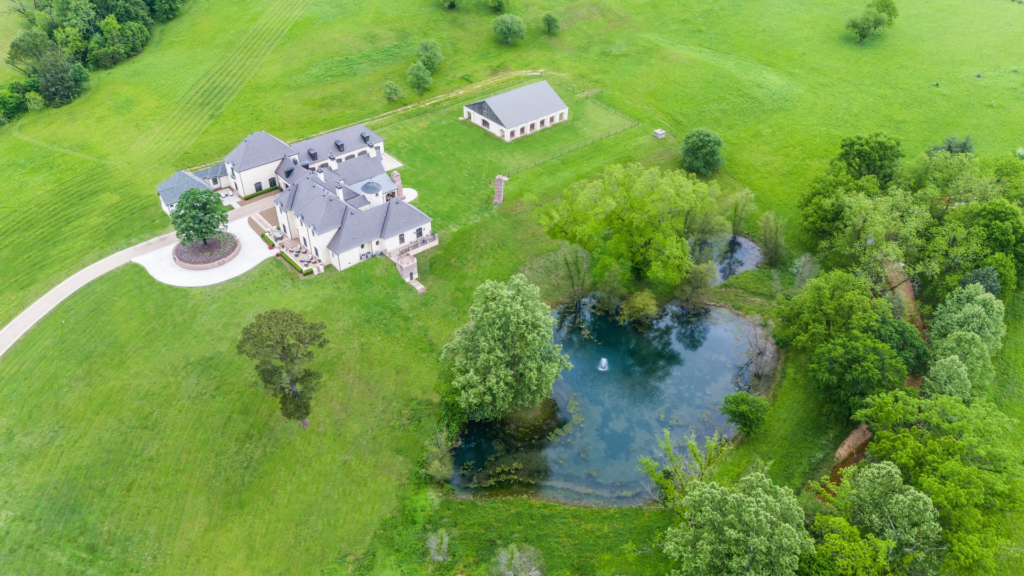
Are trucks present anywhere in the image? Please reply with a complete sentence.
No, the scene contains no truck.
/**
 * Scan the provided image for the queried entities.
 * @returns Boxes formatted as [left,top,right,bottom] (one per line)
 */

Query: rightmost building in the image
[463,80,570,141]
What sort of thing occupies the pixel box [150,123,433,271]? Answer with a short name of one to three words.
house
